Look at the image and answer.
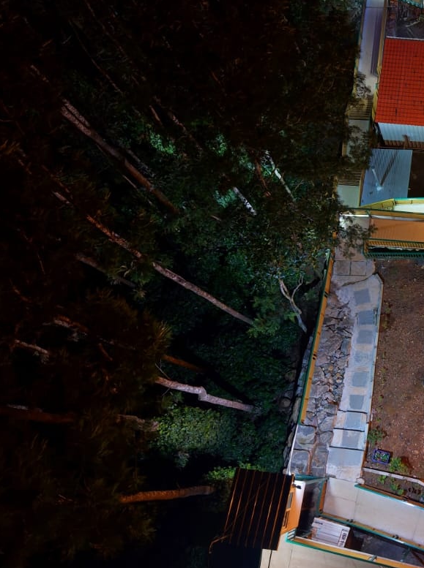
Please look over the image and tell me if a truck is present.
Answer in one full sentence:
No, no truck can be seen from above.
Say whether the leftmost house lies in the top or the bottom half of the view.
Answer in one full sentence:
The leftmost house sits in the bottom half of the picture.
